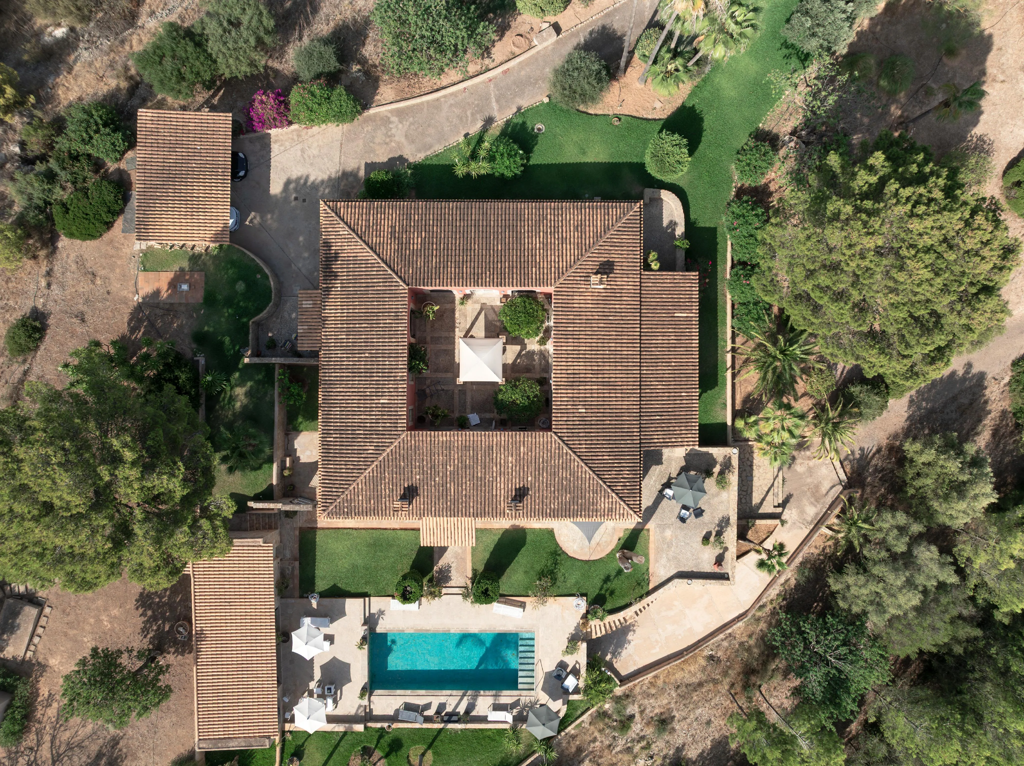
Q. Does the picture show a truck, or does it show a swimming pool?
swimming pool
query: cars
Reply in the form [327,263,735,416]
[231,152,250,182]
[230,207,241,233]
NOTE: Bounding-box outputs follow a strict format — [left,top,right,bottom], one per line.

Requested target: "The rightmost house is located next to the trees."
[296,199,701,548]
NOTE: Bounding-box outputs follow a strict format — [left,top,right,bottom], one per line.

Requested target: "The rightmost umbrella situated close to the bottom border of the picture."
[526,704,561,741]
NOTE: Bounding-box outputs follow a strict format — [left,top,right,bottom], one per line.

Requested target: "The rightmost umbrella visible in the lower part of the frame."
[671,472,707,507]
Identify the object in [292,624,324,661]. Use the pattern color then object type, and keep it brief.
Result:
white umbrella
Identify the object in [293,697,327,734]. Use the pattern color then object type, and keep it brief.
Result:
white umbrella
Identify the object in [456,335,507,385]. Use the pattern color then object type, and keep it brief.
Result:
white gazebo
